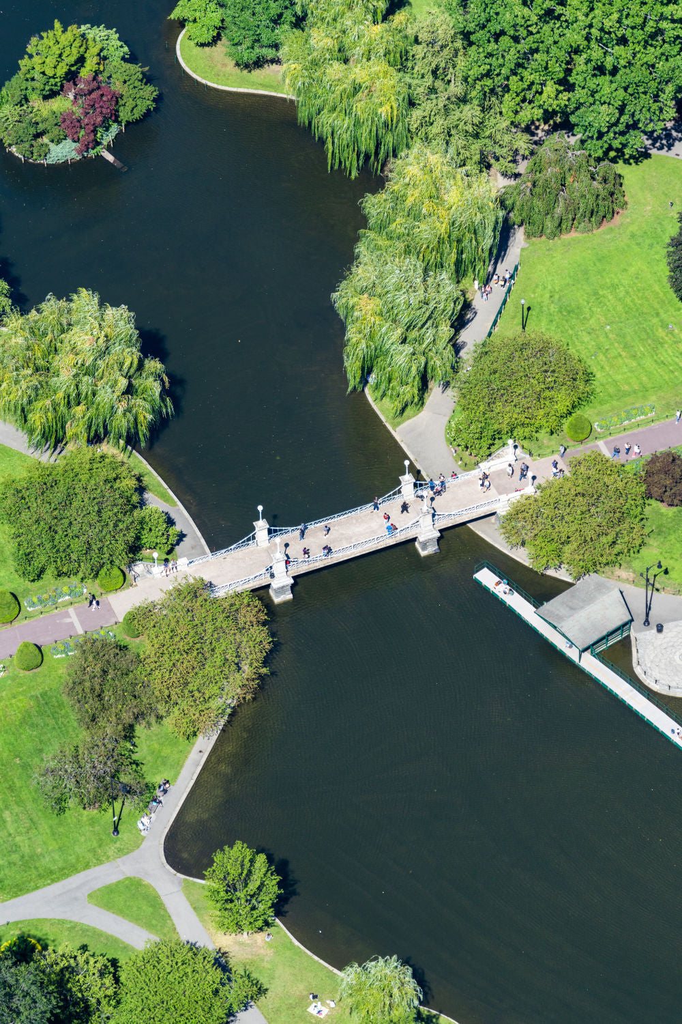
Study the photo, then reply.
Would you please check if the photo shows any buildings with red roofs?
No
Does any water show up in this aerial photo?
Yes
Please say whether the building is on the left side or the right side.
right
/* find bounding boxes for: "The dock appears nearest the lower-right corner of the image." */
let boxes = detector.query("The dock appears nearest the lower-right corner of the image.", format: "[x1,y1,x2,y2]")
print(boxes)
[472,560,682,753]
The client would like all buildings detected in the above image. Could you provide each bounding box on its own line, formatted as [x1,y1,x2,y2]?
[537,576,636,664]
